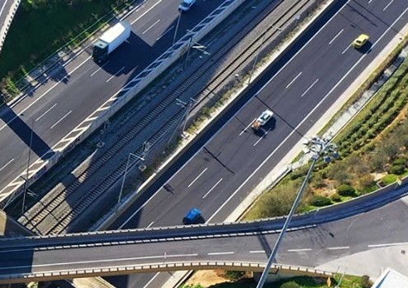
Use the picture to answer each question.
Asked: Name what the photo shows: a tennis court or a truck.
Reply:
truck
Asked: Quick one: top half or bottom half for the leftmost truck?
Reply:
top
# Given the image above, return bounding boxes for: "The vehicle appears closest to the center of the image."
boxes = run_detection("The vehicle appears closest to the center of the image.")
[252,113,272,132]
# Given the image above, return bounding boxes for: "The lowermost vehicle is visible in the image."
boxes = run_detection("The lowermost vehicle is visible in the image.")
[182,210,201,227]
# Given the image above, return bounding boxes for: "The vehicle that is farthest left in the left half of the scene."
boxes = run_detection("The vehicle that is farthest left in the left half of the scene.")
[95,17,134,55]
